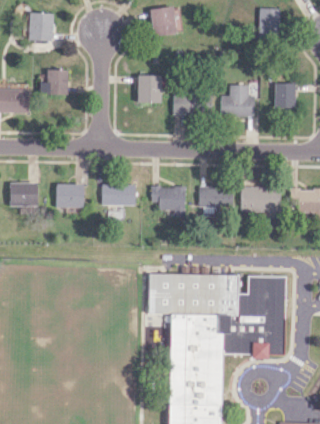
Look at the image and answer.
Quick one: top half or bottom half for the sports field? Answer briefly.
bottom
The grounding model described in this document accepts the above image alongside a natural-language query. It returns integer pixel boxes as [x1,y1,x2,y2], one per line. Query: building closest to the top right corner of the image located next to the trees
[260,8,280,34]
